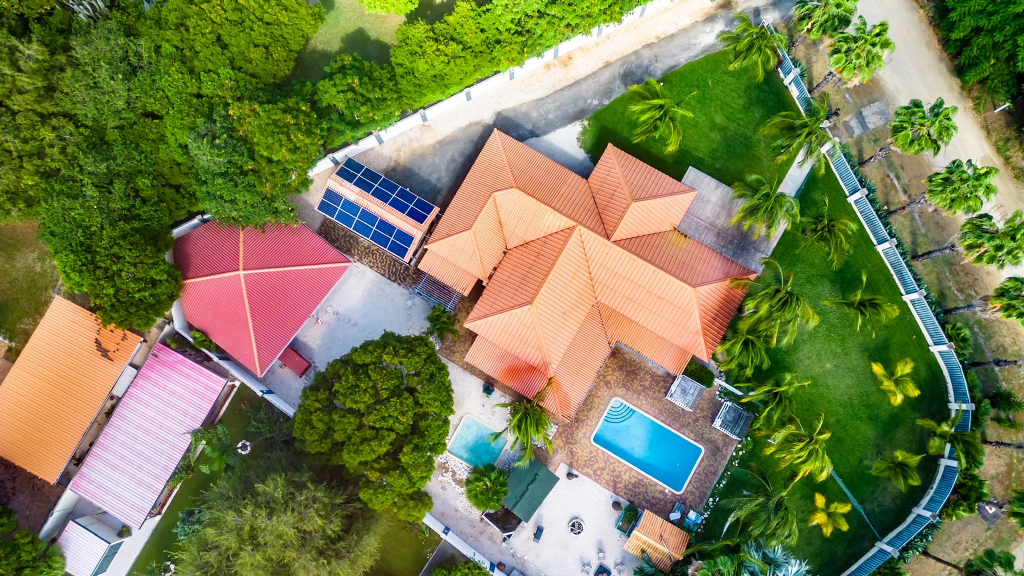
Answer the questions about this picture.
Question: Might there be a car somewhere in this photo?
No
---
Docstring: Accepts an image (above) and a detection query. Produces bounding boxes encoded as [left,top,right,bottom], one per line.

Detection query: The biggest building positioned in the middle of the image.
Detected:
[418,127,759,423]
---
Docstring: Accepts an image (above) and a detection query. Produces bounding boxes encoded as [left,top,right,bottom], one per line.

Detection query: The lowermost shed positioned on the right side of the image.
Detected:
[624,510,689,574]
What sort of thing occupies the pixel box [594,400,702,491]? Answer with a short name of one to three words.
swimming pool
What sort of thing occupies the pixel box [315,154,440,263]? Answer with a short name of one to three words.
shed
